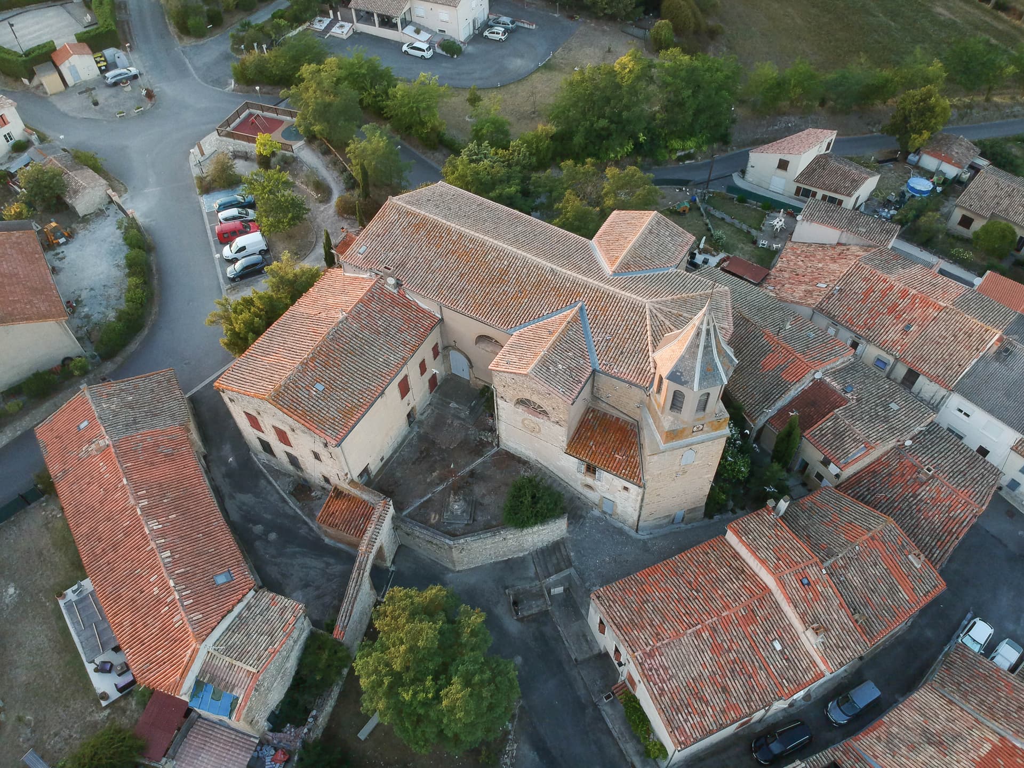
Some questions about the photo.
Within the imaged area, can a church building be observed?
Yes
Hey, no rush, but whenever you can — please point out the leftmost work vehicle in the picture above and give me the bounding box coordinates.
[39,219,73,245]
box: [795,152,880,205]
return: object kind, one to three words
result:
house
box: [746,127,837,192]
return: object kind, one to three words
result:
house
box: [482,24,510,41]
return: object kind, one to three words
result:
car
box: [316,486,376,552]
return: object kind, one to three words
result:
shed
